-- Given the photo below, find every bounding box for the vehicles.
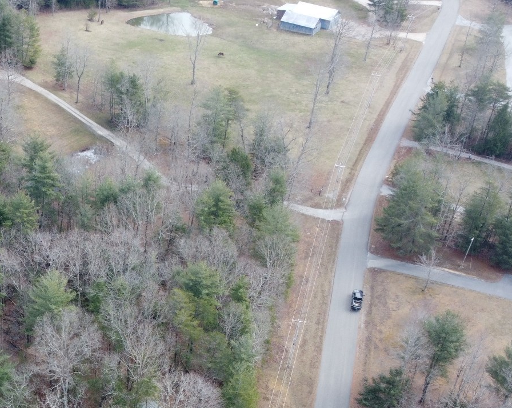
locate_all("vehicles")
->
[352,291,365,310]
